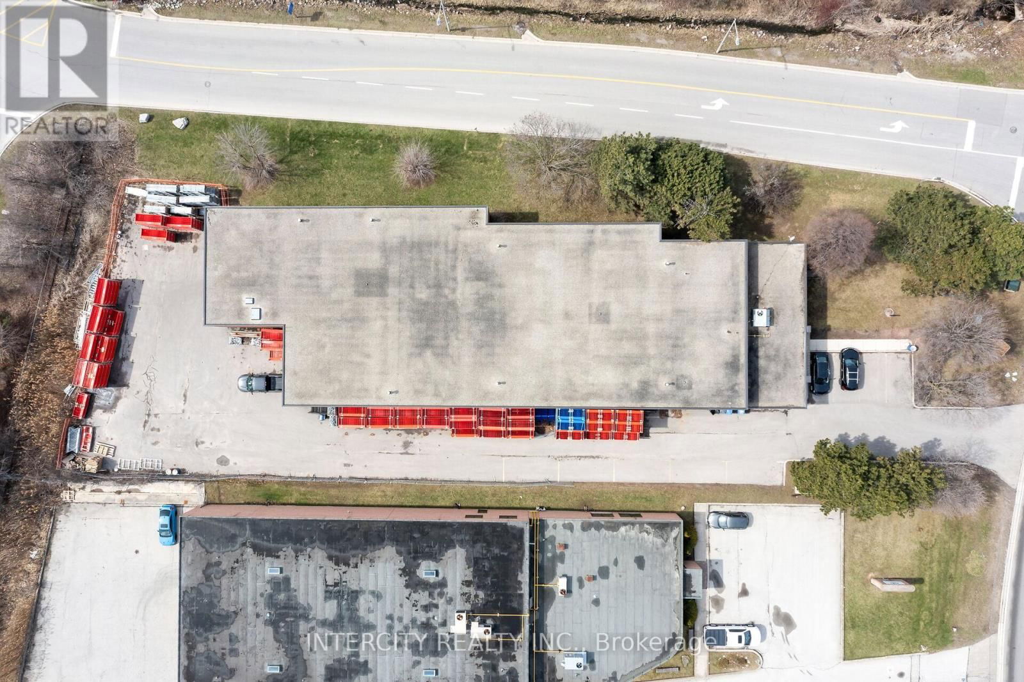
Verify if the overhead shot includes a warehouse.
Yes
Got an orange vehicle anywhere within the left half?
No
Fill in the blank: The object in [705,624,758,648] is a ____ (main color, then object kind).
white truck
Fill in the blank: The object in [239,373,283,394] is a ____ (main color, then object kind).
gray truck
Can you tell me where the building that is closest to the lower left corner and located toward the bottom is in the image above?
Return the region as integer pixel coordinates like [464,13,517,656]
[180,504,529,682]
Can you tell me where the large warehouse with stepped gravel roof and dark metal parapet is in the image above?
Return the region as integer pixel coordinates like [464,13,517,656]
[204,206,748,408]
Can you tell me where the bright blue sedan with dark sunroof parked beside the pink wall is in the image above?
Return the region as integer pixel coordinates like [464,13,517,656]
[157,505,179,545]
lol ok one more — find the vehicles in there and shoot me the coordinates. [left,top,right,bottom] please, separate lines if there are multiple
[705,624,758,648]
[707,510,749,531]
[157,505,179,545]
[809,353,831,394]
[239,373,283,394]
[837,348,860,390]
